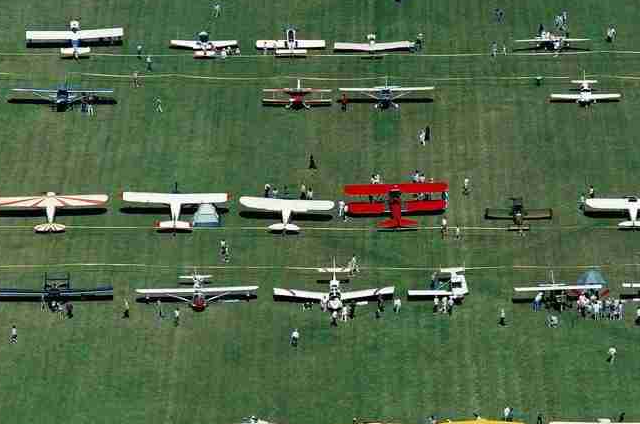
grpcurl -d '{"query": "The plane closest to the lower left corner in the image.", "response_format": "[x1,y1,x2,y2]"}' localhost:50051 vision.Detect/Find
[0,272,113,312]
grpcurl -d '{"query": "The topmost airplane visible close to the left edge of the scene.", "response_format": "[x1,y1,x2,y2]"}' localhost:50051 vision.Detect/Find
[25,17,123,59]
